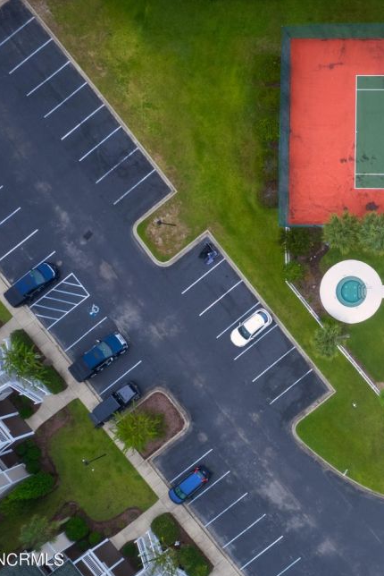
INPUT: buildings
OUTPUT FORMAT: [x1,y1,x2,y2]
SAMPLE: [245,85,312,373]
[1,529,183,576]
[0,340,51,495]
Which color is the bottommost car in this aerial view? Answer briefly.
blue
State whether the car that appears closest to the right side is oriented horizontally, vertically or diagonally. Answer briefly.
diagonally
